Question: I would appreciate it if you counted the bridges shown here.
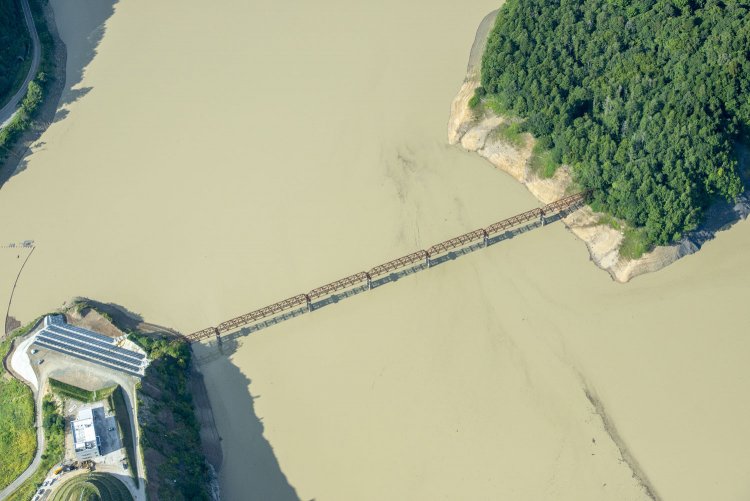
1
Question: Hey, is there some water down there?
Yes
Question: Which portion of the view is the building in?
bottom left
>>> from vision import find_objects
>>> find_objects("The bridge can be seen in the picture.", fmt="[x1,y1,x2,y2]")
[178,190,591,352]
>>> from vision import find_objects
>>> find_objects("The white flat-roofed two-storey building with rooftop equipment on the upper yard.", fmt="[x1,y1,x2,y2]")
[69,409,103,457]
